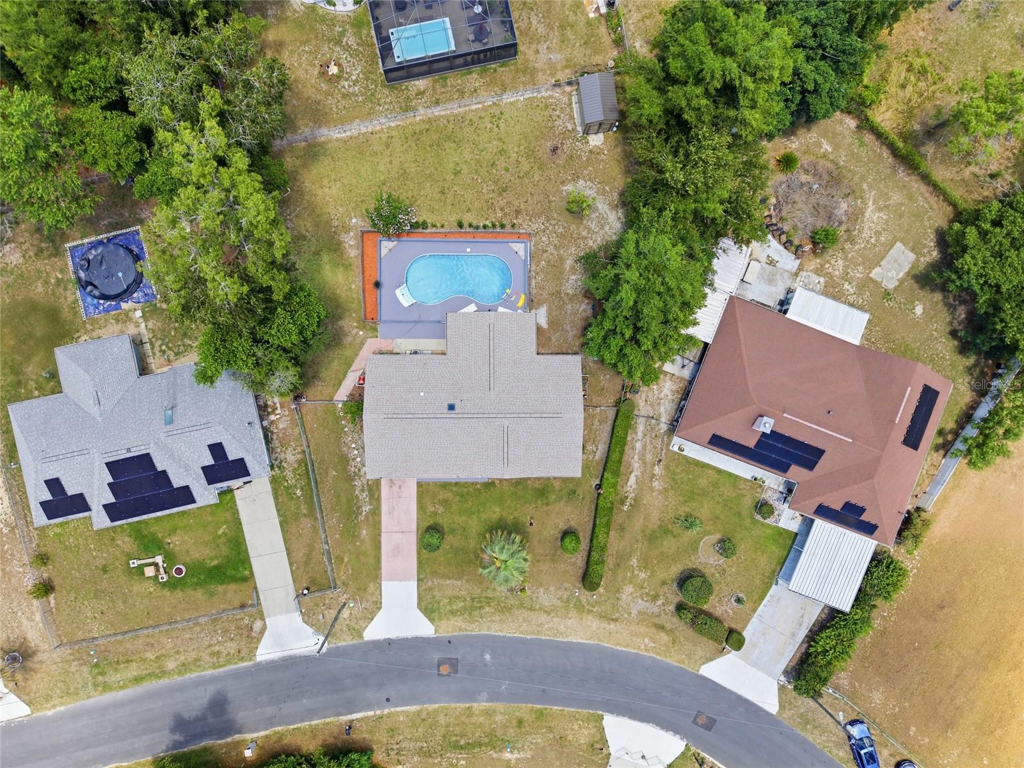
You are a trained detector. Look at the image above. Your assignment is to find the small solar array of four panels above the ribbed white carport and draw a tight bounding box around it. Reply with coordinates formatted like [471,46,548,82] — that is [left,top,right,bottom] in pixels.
[815,502,877,535]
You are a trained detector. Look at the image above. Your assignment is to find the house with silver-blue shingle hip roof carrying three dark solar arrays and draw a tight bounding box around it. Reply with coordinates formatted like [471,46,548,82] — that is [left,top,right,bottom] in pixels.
[6,333,275,530]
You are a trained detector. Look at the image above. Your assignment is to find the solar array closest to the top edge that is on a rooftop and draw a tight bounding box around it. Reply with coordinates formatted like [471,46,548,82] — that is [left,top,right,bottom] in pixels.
[900,384,935,451]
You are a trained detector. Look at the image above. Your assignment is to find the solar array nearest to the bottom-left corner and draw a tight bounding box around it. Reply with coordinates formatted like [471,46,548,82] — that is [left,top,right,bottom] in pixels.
[39,479,90,521]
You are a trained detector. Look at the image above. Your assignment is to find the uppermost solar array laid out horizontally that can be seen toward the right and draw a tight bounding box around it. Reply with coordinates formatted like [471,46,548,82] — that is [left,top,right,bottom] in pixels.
[707,433,825,474]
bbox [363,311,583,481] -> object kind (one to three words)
house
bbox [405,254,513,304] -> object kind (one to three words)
swimming pool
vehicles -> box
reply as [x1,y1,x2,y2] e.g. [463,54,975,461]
[849,718,888,768]
[896,760,920,768]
